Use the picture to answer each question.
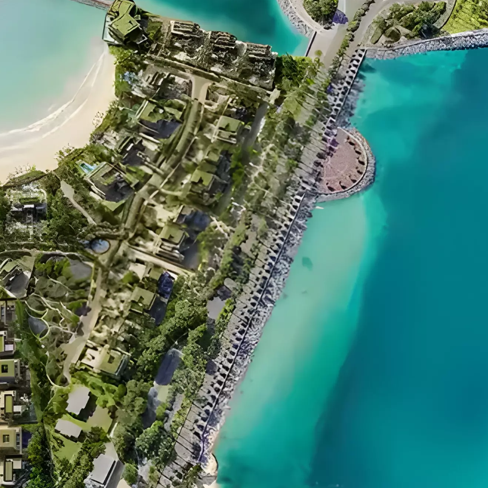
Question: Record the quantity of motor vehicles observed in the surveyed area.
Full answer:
The photo contains no motor vehicles.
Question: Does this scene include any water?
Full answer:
Yes, the picture does contain water.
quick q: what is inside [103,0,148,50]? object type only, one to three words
house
